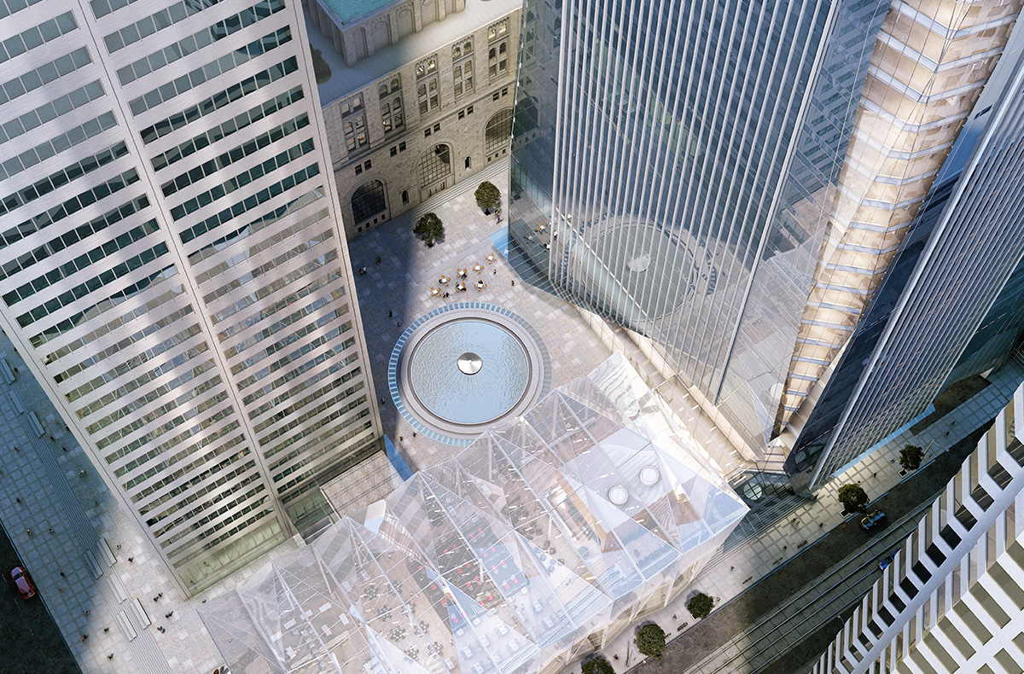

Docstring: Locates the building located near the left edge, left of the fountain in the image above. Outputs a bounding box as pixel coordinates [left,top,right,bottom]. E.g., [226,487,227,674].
[0,0,389,603]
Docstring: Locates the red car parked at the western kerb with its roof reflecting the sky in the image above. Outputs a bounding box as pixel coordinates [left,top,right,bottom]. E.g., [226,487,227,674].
[9,565,39,606]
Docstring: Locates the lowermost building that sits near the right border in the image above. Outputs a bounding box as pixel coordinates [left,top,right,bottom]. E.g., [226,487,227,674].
[804,378,1024,674]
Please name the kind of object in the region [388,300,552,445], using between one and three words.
fountain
